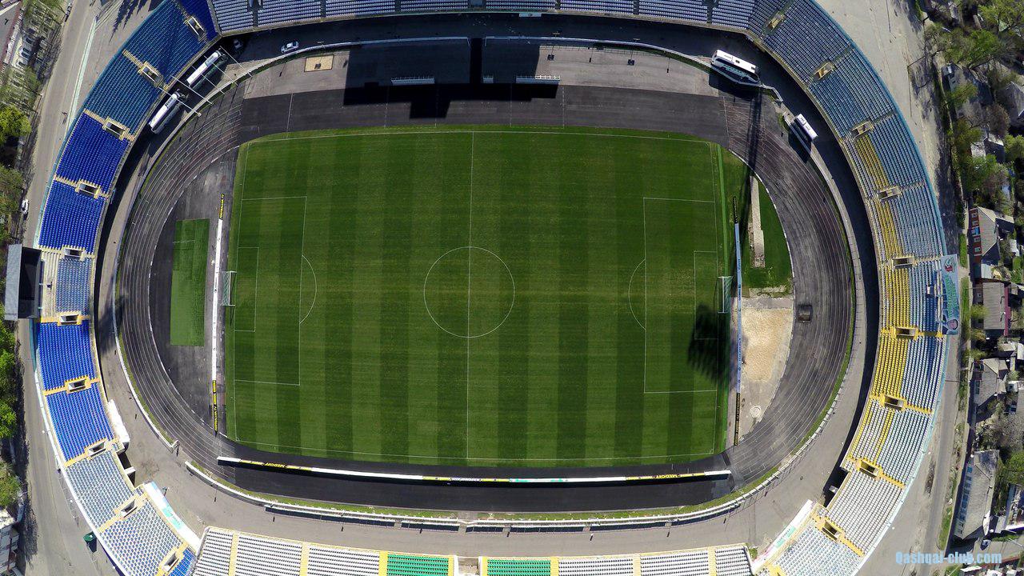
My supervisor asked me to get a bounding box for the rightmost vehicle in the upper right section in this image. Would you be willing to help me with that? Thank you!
[789,111,816,144]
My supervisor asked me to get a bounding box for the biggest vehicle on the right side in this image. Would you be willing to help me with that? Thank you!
[707,45,761,83]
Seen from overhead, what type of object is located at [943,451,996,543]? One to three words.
house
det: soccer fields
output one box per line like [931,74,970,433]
[224,125,734,467]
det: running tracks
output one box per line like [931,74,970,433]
[119,83,850,513]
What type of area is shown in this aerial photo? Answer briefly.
sports ground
